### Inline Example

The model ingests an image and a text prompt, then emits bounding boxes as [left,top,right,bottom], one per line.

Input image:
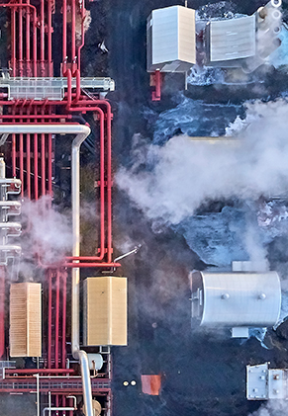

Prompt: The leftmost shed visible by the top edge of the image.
[145,3,196,72]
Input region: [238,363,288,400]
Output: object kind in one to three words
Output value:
building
